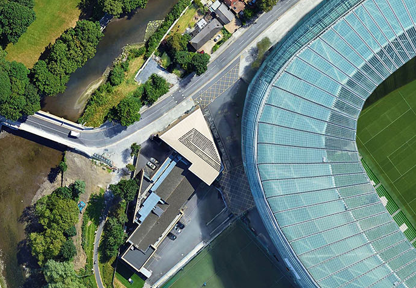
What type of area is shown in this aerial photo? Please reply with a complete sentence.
This looks like a sports ground.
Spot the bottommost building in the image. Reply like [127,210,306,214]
[120,157,194,278]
